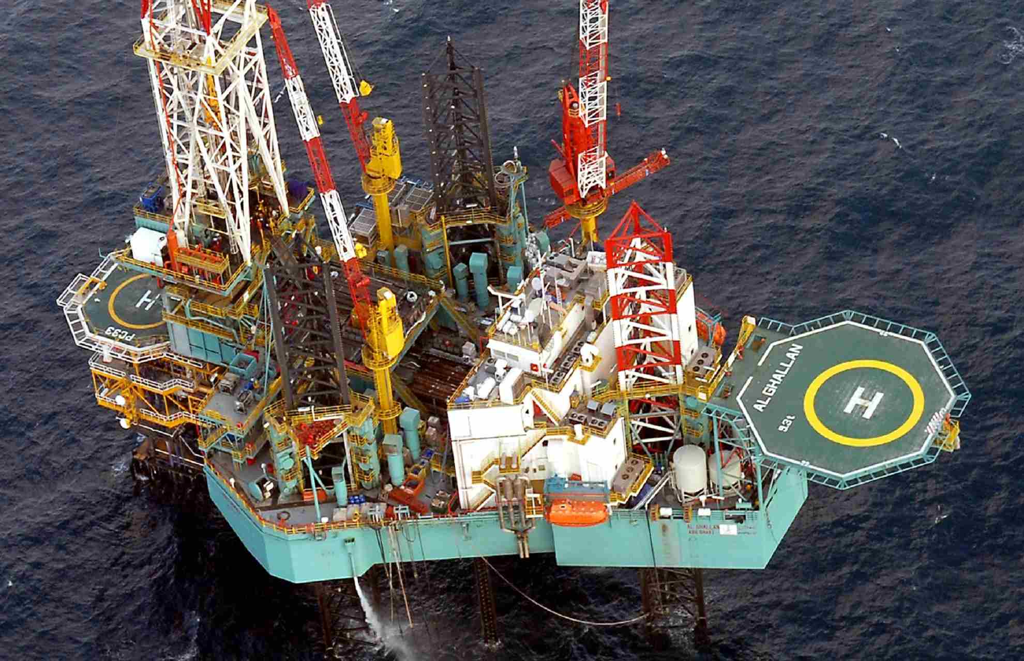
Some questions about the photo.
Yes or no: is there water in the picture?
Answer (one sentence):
Yes, the picture does contain water.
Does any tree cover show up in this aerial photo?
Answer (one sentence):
No, tree cover can't be seen anywhere here.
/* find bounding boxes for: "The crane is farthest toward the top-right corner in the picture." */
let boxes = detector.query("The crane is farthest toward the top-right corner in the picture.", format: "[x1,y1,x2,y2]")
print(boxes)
[542,0,620,249]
